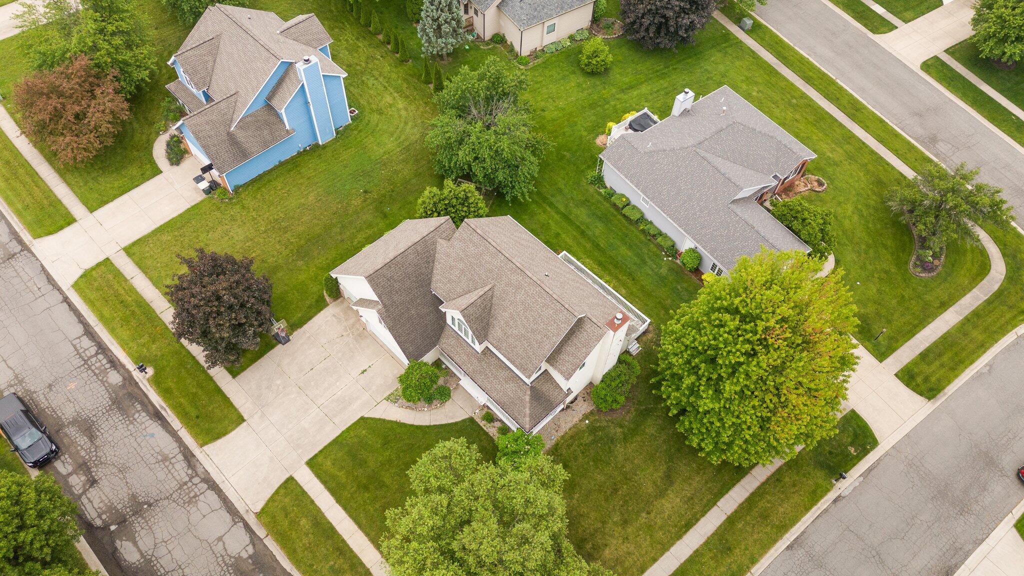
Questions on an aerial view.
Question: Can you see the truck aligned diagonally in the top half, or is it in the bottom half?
bottom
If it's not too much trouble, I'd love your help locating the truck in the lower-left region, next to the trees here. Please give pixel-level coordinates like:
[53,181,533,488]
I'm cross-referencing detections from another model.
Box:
[0,391,56,467]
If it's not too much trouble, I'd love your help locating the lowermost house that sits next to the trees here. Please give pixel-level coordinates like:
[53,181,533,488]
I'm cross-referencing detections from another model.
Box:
[329,215,651,437]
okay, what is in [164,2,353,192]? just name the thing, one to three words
house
